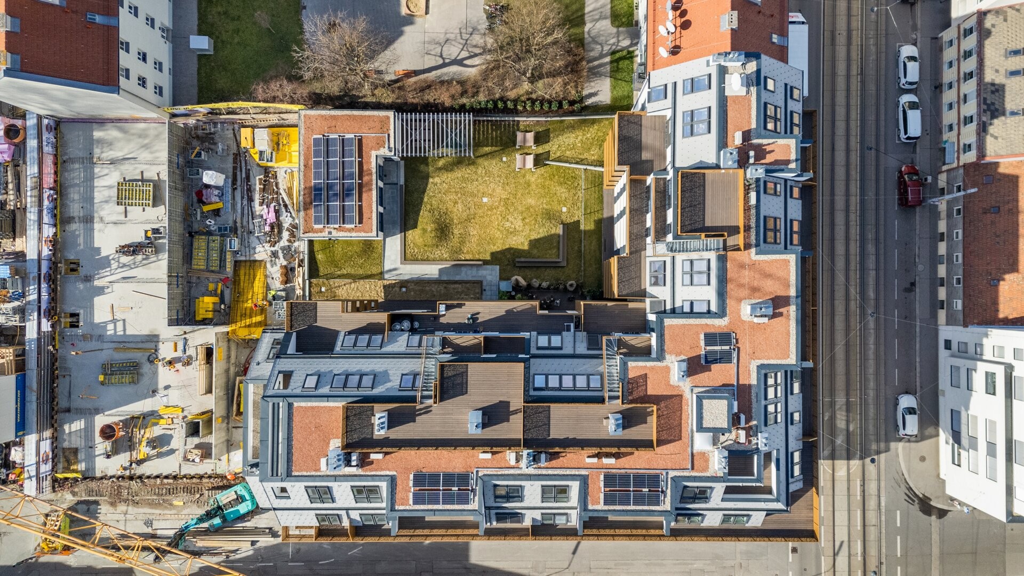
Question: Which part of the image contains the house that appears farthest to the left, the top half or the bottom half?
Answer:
top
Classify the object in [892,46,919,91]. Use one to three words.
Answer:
car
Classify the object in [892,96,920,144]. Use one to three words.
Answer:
car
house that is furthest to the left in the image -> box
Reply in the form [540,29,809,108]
[0,0,173,120]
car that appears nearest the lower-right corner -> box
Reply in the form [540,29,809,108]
[891,393,918,437]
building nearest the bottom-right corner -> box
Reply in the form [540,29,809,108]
[936,327,1024,522]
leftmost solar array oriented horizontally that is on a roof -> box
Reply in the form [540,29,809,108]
[408,472,476,505]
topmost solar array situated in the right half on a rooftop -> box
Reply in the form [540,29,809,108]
[698,332,736,364]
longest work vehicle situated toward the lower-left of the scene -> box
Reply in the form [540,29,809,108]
[159,479,257,564]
